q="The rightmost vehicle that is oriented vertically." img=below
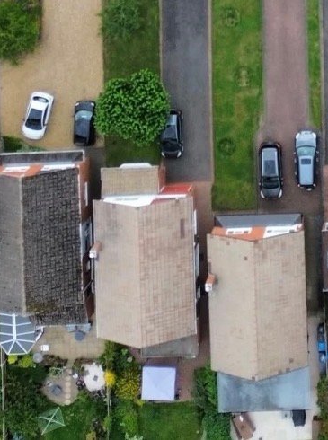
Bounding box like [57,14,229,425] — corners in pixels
[291,130,321,190]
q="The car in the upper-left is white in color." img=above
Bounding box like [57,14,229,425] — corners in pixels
[21,89,54,142]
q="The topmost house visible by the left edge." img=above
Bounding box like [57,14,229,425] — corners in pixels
[0,145,96,327]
